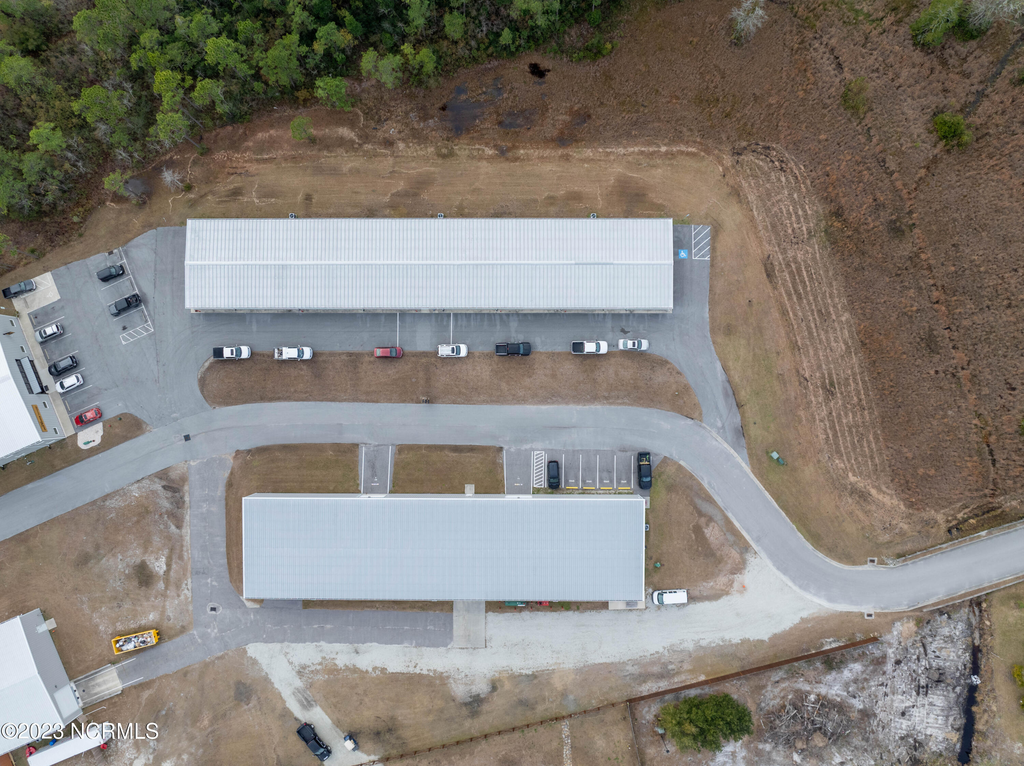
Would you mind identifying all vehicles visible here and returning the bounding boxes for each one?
[35,322,66,343]
[547,460,561,490]
[571,339,607,355]
[56,373,87,394]
[374,347,404,360]
[618,337,649,352]
[93,263,128,285]
[637,452,653,489]
[344,734,359,752]
[296,722,330,759]
[48,354,82,377]
[274,345,313,361]
[213,345,252,360]
[495,343,532,357]
[0,277,38,302]
[75,407,105,427]
[108,293,145,317]
[437,343,468,358]
[651,588,689,605]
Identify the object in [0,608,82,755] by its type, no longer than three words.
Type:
building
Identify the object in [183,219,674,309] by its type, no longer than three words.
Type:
building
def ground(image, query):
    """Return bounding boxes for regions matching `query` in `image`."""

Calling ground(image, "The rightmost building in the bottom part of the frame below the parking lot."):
[241,492,646,601]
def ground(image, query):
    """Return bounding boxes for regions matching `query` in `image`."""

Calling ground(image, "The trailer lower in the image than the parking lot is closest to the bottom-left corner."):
[18,721,115,766]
